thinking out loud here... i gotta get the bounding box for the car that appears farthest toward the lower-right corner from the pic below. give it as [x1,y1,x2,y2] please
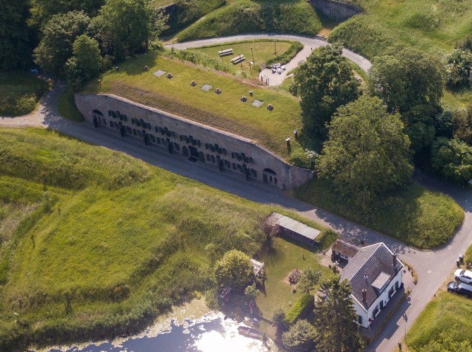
[448,282,472,301]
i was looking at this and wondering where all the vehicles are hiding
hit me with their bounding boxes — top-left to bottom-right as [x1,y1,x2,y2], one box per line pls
[448,282,472,301]
[453,267,472,285]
